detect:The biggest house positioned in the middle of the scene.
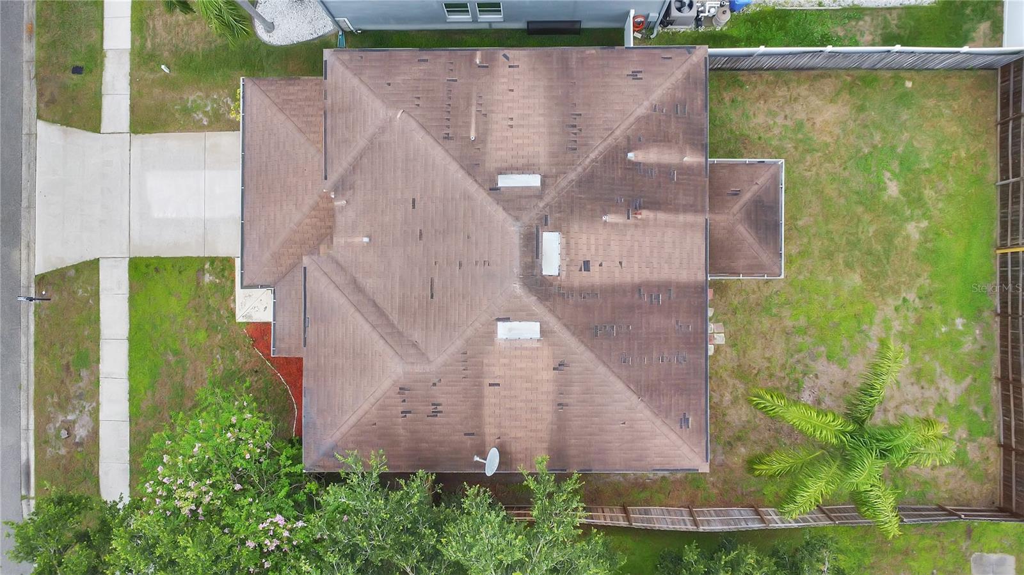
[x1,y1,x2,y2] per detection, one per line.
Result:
[240,47,784,473]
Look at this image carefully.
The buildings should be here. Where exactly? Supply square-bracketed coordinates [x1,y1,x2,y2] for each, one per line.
[319,0,677,39]
[240,47,784,473]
